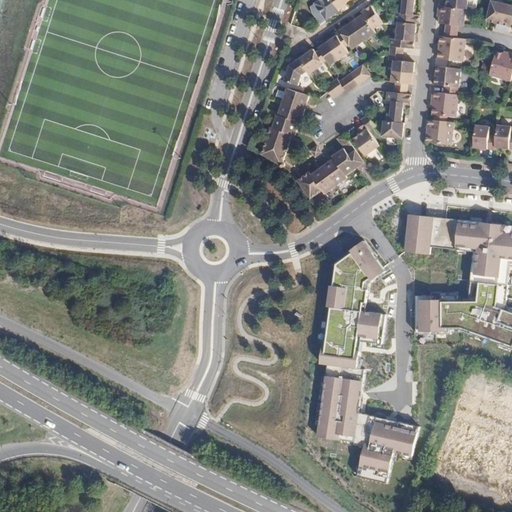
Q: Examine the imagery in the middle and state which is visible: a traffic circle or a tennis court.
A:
traffic circle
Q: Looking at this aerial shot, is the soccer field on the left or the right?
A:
left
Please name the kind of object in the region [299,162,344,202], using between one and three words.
house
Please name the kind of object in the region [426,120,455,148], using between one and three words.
house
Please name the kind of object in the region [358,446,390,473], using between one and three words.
building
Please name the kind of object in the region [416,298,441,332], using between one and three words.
building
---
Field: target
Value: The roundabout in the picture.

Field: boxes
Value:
[182,216,248,282]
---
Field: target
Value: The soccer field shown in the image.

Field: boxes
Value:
[0,0,228,212]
